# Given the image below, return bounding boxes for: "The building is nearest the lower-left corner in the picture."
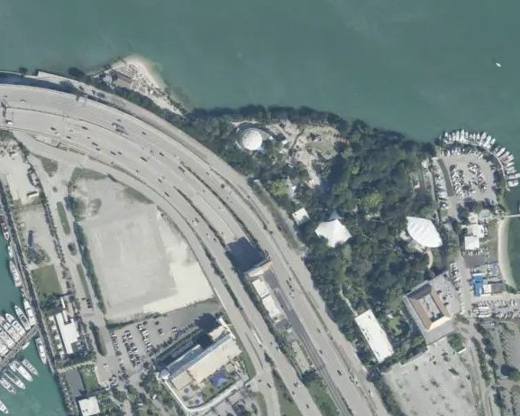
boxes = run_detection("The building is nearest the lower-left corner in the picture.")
[77,396,100,416]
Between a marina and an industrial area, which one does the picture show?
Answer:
marina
